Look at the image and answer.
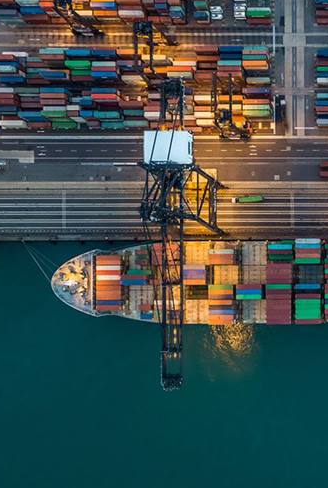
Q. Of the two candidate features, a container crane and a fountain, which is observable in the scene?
container crane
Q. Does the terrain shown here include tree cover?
No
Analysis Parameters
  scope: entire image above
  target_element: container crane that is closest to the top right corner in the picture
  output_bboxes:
[212,75,246,135]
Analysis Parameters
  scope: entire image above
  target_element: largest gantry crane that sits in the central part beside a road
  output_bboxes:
[134,77,228,390]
